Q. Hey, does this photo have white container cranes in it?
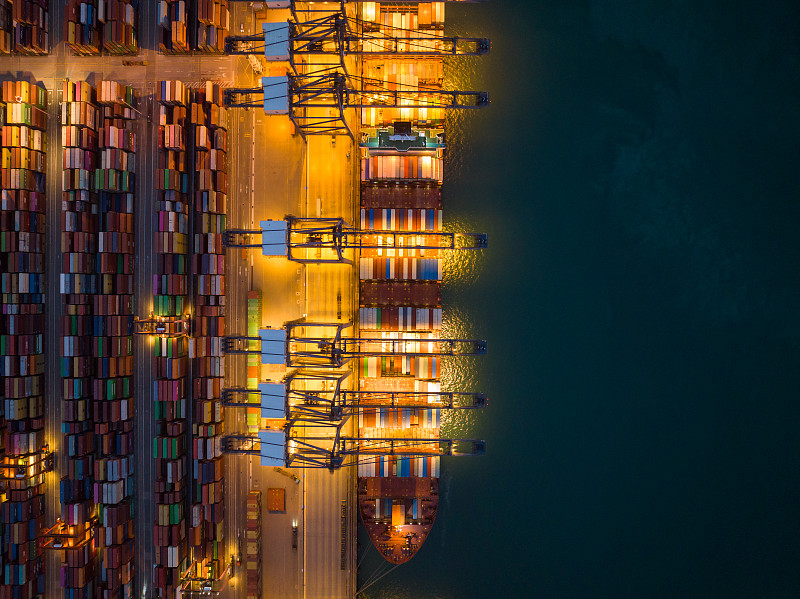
No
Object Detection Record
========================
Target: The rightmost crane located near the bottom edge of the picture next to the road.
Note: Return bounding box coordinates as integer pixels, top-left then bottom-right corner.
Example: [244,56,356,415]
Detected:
[178,562,230,594]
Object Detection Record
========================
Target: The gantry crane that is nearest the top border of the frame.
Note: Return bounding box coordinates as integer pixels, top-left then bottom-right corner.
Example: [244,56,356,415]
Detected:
[227,0,491,52]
